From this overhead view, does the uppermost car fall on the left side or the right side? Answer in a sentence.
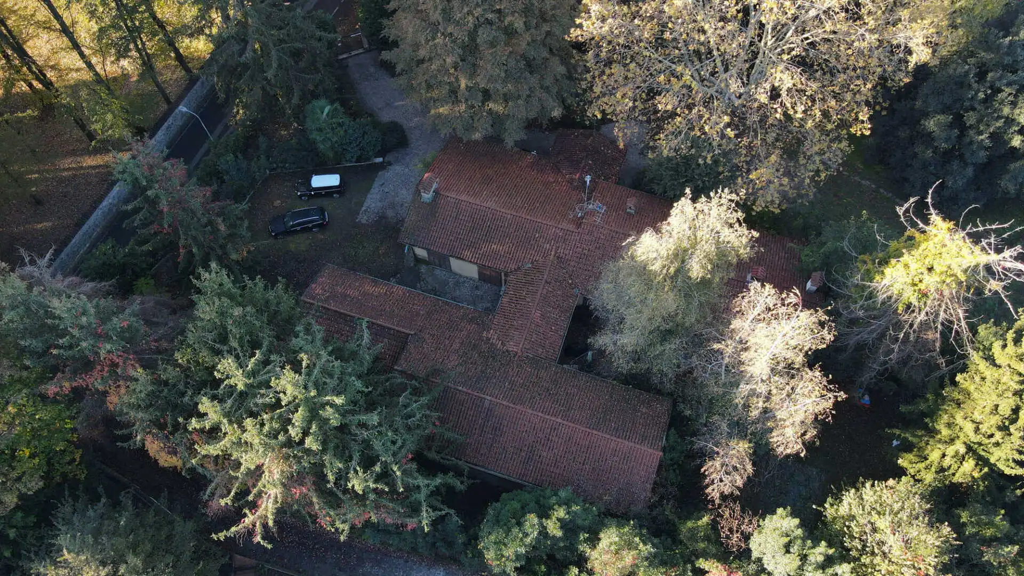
The uppermost car is on the left side of the image.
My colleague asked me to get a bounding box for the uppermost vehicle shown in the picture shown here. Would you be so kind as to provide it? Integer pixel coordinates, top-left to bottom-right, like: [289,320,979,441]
[295,173,342,200]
